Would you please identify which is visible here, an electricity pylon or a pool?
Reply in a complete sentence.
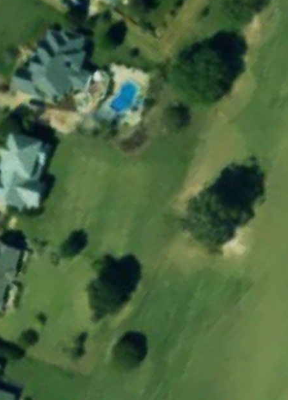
It is a pool that can be seen here.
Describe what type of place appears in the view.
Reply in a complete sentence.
The area seen from above is a golf course.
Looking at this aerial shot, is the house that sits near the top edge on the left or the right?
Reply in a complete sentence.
It is on the left.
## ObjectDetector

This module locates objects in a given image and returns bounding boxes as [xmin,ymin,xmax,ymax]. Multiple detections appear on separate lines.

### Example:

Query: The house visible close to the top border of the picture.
[7,17,95,105]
